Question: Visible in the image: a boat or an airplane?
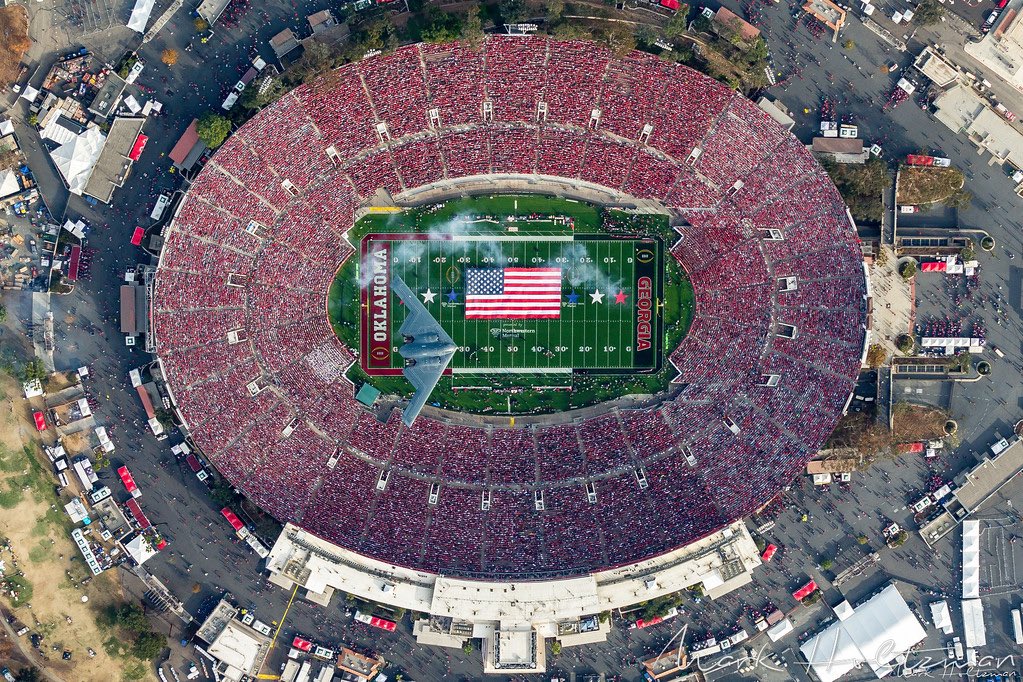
airplane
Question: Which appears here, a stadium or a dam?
stadium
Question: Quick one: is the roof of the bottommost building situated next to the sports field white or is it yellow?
white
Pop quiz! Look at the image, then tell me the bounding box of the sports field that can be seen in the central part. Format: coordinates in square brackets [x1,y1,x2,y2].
[328,194,693,414]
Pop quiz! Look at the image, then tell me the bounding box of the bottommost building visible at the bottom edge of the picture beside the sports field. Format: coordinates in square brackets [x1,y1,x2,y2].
[266,517,762,673]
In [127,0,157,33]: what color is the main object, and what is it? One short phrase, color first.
white tent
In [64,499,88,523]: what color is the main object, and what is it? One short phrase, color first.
white tent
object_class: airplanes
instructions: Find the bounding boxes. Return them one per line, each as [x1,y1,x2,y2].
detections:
[392,275,459,427]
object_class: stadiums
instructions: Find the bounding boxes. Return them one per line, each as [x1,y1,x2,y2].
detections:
[150,35,870,575]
